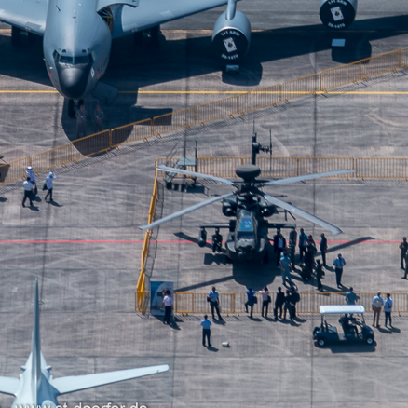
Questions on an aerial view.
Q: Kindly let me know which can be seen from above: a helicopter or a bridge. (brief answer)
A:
helicopter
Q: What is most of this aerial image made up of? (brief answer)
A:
paved ground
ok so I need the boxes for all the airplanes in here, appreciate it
[0,0,253,121]
[0,275,171,408]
